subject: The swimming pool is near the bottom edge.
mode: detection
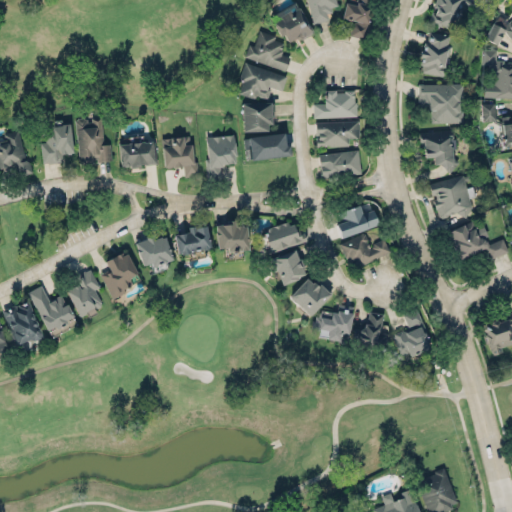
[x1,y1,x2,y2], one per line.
[368,474,401,499]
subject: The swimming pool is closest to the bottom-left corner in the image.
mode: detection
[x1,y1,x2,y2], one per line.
[122,282,148,301]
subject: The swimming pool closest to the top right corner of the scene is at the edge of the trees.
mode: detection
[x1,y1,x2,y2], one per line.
[486,124,503,146]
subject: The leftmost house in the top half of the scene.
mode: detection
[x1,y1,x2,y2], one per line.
[0,130,34,174]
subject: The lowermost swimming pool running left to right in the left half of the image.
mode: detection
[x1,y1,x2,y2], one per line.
[188,254,215,269]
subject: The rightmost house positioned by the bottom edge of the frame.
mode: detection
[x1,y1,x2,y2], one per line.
[418,467,458,512]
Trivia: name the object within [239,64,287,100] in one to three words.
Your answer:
house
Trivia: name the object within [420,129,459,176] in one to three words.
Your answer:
house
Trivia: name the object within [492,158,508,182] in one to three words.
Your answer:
swimming pool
